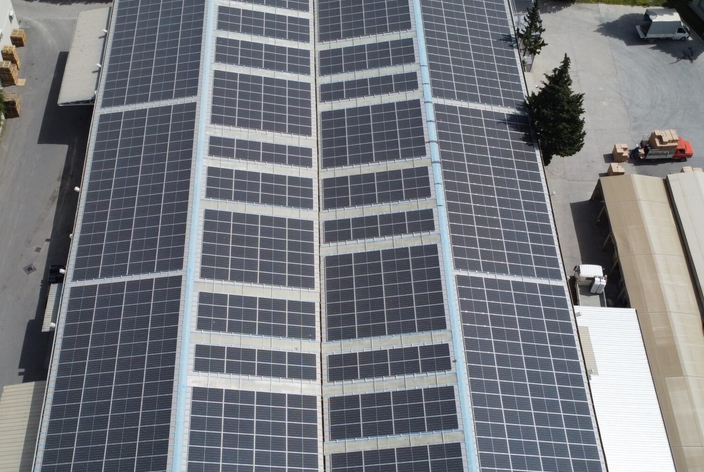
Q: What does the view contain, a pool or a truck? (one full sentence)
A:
The one in the frame is a truck.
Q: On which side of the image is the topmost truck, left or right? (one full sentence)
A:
The topmost truck is on the right side of the image.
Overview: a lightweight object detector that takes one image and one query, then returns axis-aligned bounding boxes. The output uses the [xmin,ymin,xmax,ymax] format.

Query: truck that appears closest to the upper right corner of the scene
[634,7,692,40]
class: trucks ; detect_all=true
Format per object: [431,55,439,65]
[634,7,692,40]
[632,134,696,164]
[571,267,608,308]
